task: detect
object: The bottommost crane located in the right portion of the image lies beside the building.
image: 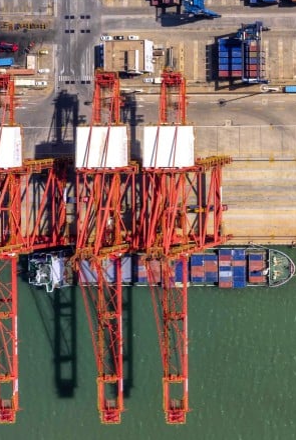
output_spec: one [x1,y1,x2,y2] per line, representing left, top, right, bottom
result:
[141,68,236,425]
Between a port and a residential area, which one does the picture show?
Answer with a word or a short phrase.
port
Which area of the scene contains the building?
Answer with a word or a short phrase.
top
